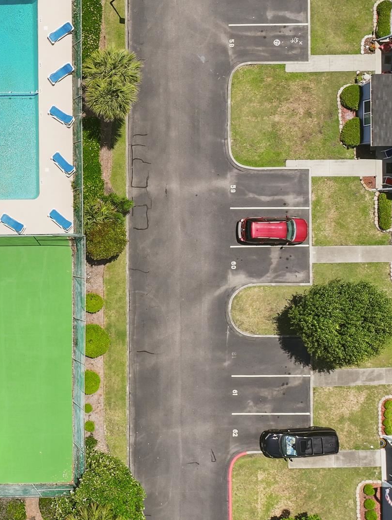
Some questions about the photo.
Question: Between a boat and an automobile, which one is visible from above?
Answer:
automobile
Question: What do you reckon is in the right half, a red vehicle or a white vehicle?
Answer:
red vehicle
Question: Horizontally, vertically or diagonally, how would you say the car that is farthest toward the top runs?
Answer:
horizontally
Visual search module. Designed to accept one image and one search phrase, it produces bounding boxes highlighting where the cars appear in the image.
[236,215,308,246]
[260,426,337,459]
